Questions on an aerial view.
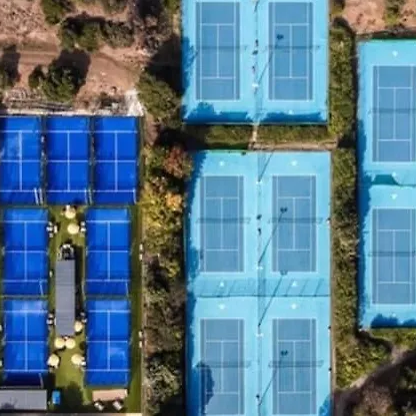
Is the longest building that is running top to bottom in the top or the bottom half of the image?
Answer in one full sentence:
Seen from above, the longest building that is running top to bottom lies in the bottom half of the view.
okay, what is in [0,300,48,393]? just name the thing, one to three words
sports court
